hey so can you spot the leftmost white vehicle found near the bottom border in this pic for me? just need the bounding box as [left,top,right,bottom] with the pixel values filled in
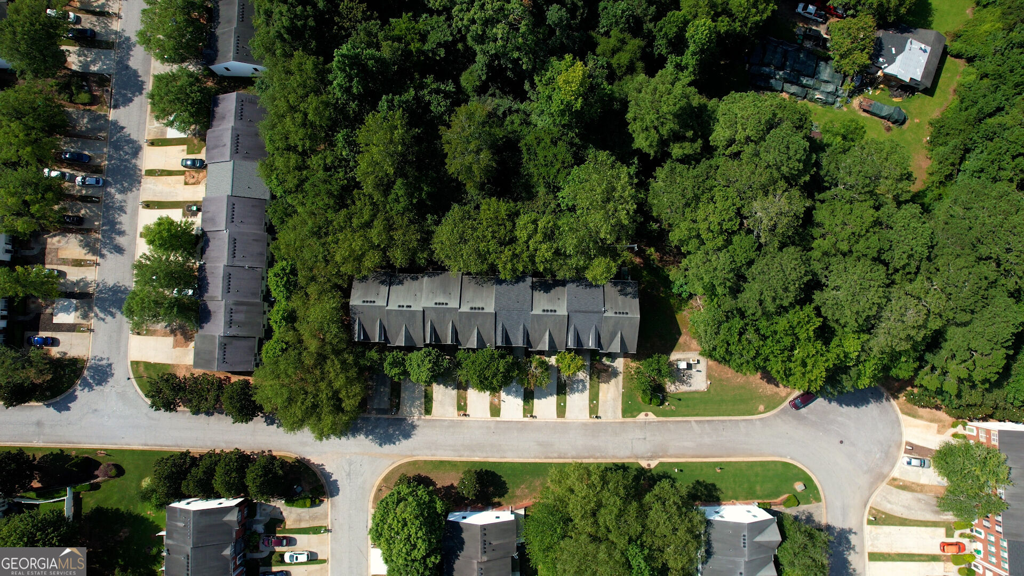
[284,550,311,564]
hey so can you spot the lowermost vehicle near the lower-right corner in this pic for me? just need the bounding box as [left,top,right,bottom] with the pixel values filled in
[938,541,966,555]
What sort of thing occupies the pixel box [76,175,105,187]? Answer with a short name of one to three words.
vehicle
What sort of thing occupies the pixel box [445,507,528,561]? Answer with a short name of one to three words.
house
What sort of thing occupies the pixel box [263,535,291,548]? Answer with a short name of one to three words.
vehicle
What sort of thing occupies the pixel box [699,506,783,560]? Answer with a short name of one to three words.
house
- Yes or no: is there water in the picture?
No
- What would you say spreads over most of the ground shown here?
trees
